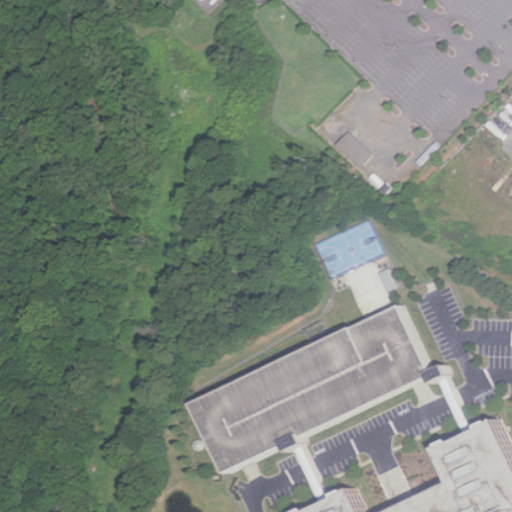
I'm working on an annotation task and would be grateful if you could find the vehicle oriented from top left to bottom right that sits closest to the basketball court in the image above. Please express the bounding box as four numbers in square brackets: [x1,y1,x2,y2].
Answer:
[368,174,390,192]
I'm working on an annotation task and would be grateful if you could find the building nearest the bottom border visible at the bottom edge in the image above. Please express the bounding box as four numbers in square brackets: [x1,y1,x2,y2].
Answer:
[294,418,512,512]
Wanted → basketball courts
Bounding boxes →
[316,220,384,278]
